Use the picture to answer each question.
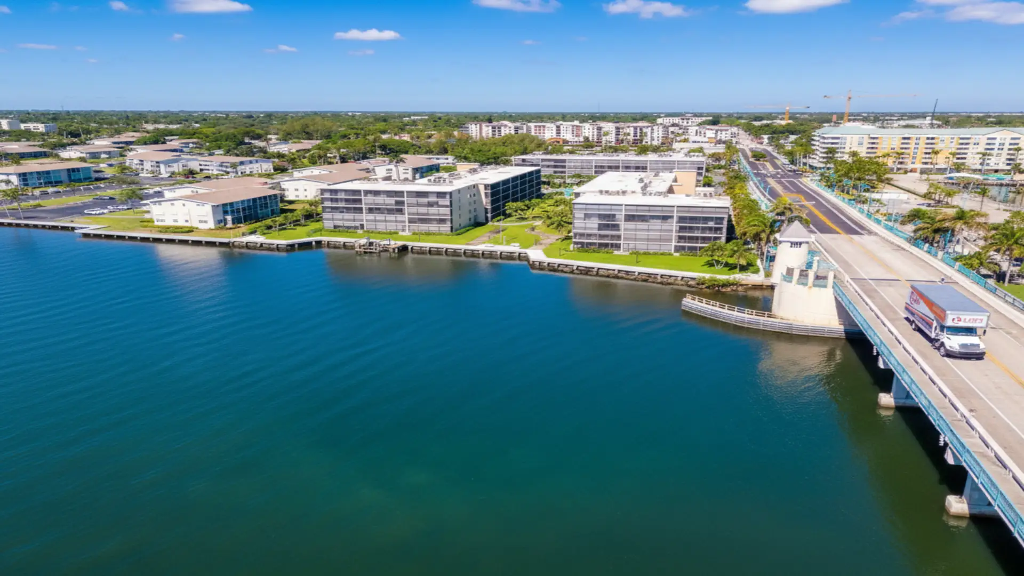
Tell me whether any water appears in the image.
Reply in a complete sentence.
Yes, water can be seen from above here.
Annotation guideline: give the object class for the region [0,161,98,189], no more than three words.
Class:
house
